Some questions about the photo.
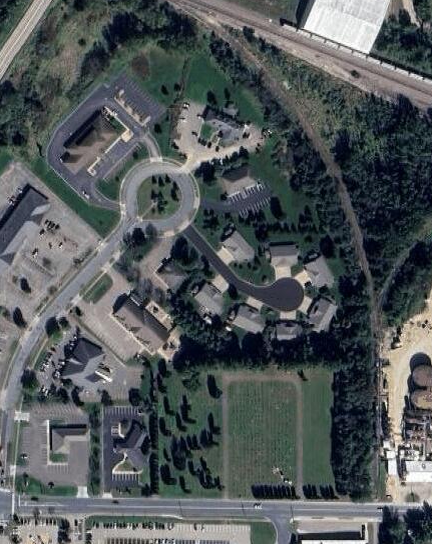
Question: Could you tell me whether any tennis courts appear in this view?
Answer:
No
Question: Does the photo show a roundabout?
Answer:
Yes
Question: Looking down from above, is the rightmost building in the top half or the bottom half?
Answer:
bottom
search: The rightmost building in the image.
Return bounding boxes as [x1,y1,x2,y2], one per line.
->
[404,461,432,482]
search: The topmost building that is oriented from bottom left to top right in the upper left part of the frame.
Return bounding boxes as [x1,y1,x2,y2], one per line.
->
[58,109,123,173]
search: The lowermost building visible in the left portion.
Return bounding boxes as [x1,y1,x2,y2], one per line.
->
[112,417,151,477]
